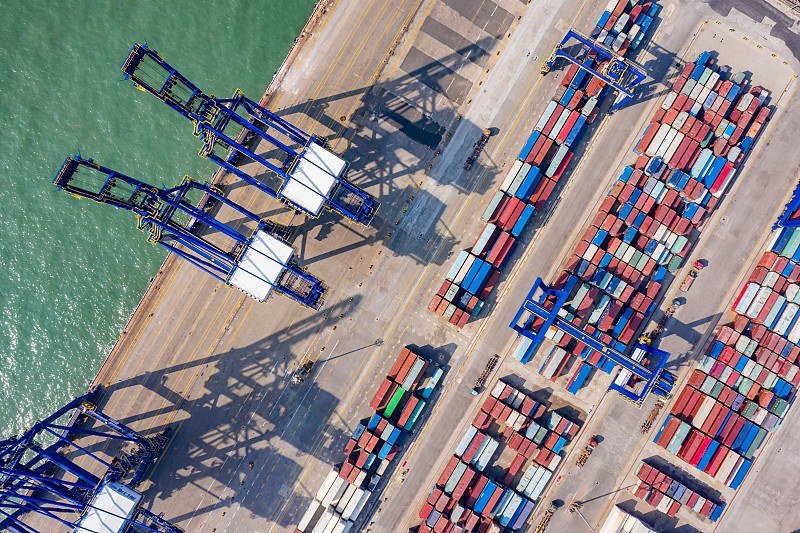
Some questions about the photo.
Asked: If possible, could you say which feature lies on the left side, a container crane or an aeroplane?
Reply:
container crane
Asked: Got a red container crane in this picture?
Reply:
No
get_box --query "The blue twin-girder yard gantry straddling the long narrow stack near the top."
[538,23,652,118]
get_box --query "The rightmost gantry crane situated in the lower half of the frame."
[508,275,691,410]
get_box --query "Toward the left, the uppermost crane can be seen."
[120,38,385,229]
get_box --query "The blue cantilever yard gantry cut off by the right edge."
[771,183,800,232]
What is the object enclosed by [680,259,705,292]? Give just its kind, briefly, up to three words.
truck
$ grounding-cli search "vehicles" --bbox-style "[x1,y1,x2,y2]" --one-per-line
[470,353,499,396]
[641,402,663,435]
[680,259,705,292]
[648,296,684,338]
[536,501,561,533]
[466,125,493,166]
[577,438,599,468]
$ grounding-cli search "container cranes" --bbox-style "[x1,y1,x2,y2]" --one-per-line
[771,183,800,232]
[52,150,333,317]
[538,23,652,118]
[120,38,385,229]
[508,275,691,410]
[0,386,177,533]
